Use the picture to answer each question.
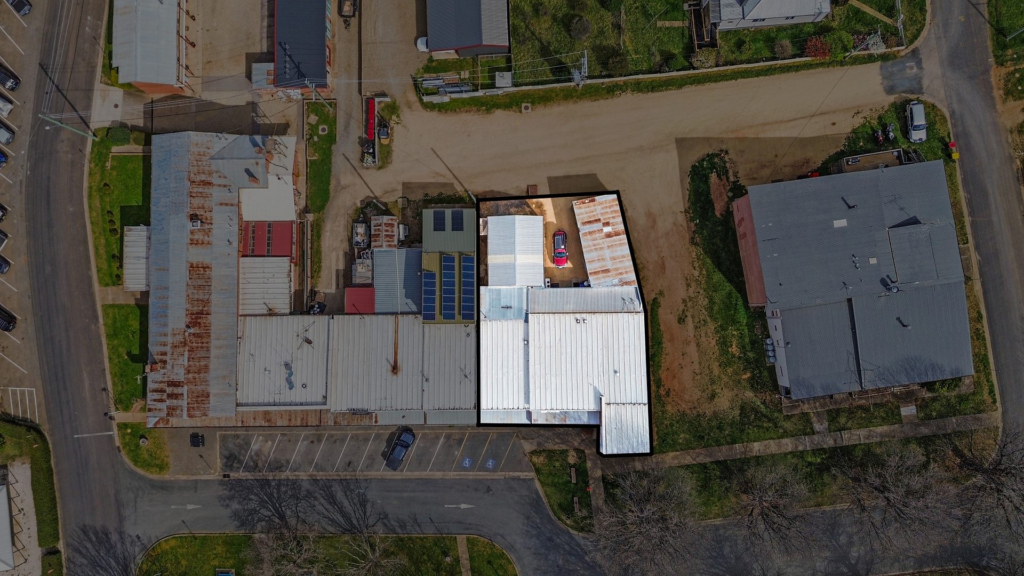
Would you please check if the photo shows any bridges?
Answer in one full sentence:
No, there's no bridge here.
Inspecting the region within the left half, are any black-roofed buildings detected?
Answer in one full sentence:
Yes, there is a black-roofed building within the left half.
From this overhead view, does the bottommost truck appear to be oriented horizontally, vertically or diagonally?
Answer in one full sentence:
The bottommost truck has been laid out diagonally relative to the frame.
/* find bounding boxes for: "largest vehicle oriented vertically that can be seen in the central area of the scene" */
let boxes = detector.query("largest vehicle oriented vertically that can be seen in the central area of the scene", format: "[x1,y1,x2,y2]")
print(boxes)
[551,229,570,270]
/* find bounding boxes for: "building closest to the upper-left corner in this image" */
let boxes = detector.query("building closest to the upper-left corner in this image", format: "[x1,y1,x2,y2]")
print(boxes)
[111,0,195,94]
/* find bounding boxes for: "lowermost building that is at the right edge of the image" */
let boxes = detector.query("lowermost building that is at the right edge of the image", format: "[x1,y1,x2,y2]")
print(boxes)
[721,159,975,401]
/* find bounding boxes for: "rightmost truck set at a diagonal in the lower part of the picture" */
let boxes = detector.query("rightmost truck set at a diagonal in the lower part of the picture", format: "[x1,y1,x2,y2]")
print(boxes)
[382,427,418,471]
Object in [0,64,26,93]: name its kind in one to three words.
car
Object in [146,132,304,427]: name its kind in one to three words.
building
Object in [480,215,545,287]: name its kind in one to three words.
shed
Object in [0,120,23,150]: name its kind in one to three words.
car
